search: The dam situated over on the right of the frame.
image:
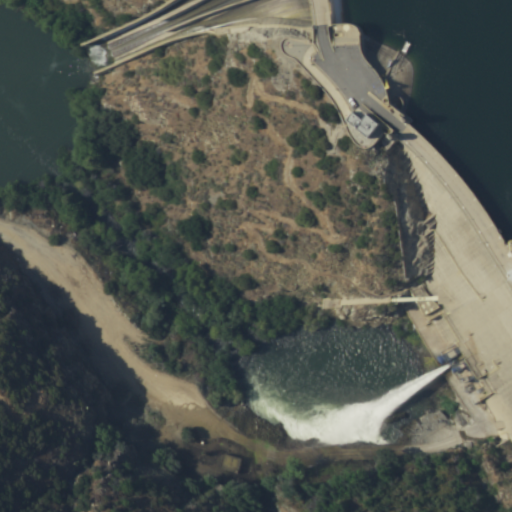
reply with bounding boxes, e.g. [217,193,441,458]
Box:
[386,116,512,392]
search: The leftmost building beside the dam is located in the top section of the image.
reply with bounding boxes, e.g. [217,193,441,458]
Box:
[346,113,379,138]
